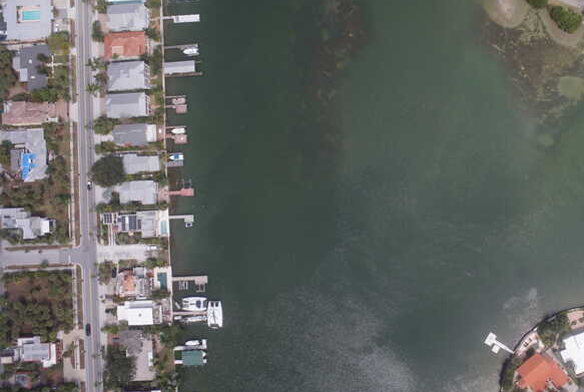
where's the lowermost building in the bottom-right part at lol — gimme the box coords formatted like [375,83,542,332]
[516,353,567,392]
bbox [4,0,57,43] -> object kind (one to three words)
building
